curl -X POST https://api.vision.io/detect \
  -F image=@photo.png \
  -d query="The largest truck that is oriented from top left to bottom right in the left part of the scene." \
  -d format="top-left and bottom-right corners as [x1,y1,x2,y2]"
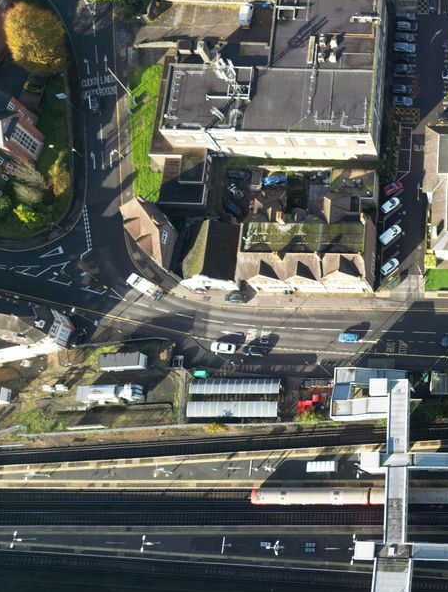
[125,271,166,301]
